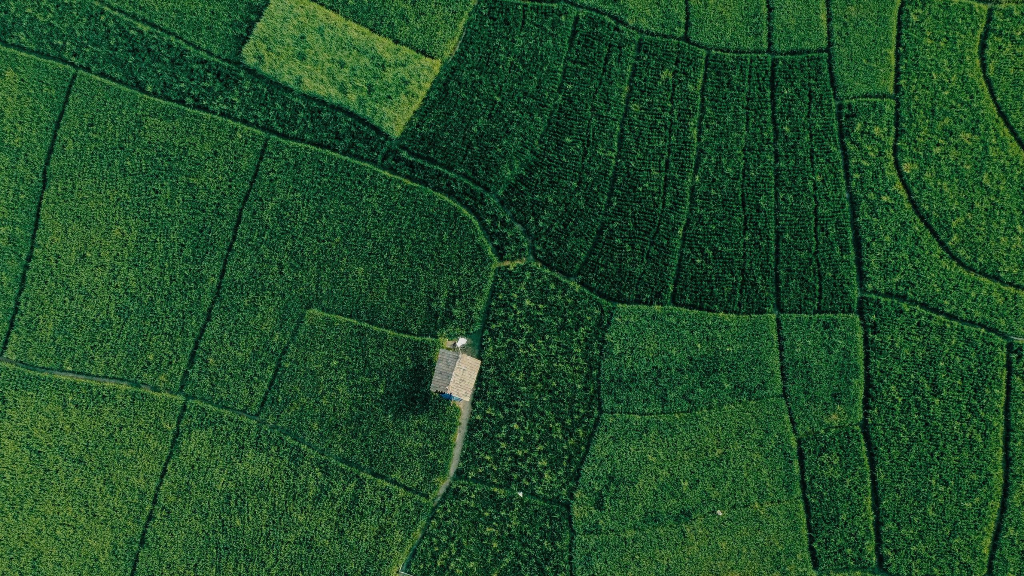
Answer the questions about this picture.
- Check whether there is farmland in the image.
Yes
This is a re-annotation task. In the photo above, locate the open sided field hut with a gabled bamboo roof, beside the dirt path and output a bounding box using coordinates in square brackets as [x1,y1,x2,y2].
[430,348,482,401]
